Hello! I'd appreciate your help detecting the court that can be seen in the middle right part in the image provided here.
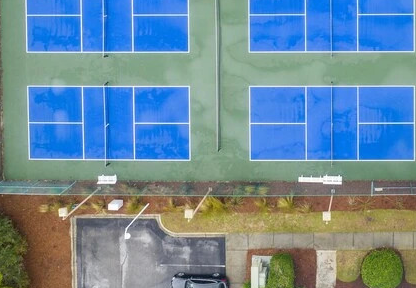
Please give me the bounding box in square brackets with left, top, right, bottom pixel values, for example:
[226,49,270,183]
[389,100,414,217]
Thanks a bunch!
[249,85,416,162]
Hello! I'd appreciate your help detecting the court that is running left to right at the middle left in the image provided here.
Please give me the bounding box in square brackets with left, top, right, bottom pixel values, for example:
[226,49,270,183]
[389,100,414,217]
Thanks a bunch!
[27,85,190,161]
